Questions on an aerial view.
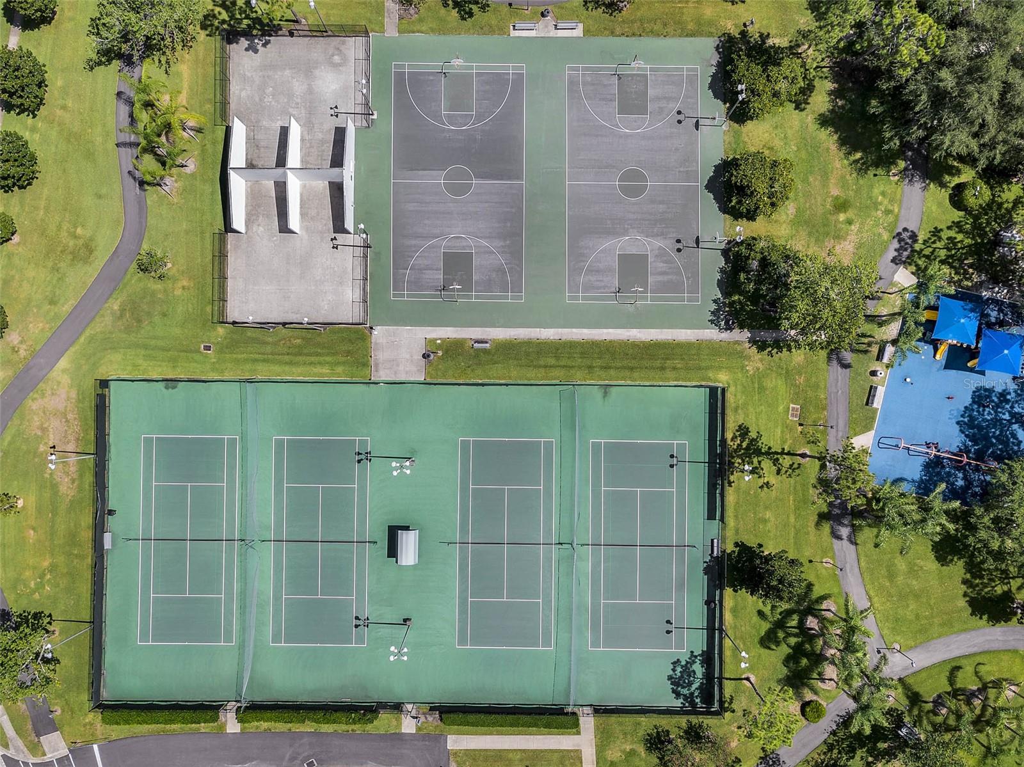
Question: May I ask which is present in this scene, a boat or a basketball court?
basketball court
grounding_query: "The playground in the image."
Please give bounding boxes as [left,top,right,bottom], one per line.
[862,286,1024,515]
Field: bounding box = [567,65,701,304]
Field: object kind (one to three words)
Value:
basketball court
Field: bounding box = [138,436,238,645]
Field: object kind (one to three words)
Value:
tennis court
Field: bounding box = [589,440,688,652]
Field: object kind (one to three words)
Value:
tennis court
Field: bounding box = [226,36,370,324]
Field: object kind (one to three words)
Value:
sports court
